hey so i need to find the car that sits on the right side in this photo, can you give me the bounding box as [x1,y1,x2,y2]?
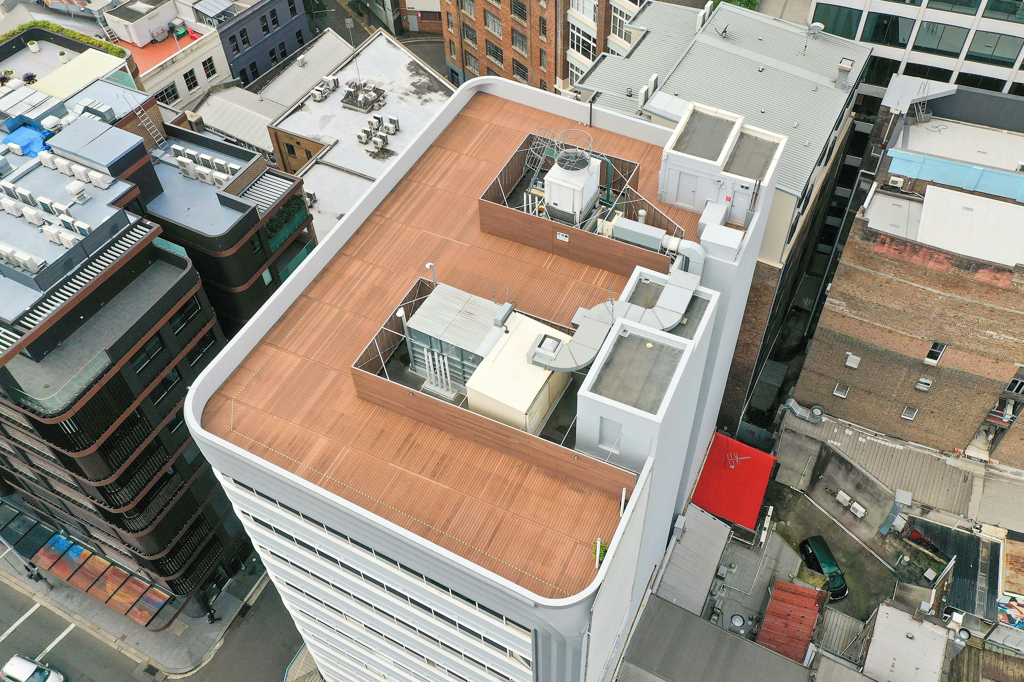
[800,536,848,605]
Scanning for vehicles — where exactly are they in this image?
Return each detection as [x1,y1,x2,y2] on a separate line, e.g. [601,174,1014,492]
[0,653,62,682]
[800,536,848,605]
